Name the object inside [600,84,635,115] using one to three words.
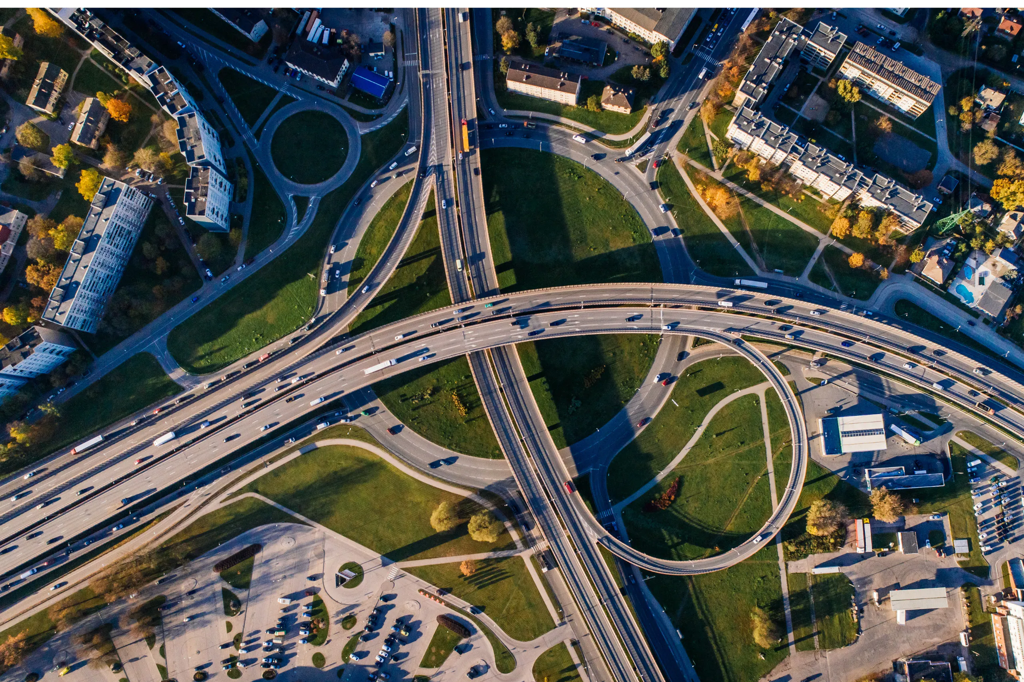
house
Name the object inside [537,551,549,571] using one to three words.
vehicle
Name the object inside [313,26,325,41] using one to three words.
vehicle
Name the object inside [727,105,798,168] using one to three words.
building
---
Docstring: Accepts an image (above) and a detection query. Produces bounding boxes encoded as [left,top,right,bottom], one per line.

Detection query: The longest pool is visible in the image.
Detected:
[955,283,975,304]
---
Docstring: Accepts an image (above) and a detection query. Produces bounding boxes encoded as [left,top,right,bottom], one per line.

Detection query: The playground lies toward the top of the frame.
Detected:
[805,94,830,122]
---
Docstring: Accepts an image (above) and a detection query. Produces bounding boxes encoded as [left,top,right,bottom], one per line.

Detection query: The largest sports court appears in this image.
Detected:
[873,132,931,172]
